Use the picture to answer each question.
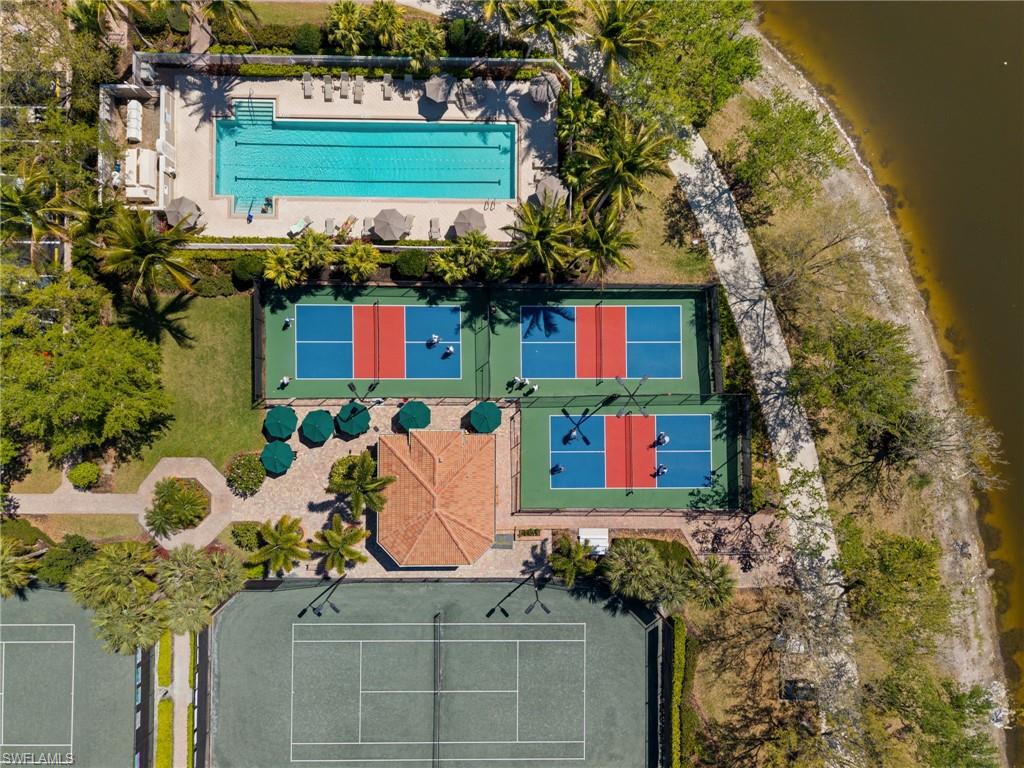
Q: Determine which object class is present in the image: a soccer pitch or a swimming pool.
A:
swimming pool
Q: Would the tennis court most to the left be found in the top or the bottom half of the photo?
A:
bottom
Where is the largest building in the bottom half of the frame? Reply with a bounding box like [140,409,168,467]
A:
[376,427,497,567]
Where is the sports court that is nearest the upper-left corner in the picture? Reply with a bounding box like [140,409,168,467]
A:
[263,288,489,398]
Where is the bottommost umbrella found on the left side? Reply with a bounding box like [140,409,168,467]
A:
[262,441,296,475]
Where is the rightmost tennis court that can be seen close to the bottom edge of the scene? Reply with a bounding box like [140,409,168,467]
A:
[207,580,659,768]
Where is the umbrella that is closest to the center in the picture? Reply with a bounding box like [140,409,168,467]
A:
[469,400,502,433]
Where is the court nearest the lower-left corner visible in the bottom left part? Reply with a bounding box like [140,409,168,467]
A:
[0,588,150,768]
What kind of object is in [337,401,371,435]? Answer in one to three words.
umbrella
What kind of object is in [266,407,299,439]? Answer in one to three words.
umbrella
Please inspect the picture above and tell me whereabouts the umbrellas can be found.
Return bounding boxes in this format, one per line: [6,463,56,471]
[469,400,502,433]
[532,173,568,209]
[398,398,432,429]
[262,441,296,475]
[302,410,336,444]
[266,407,299,439]
[167,195,202,230]
[373,207,410,243]
[423,75,458,113]
[337,401,371,435]
[451,205,486,238]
